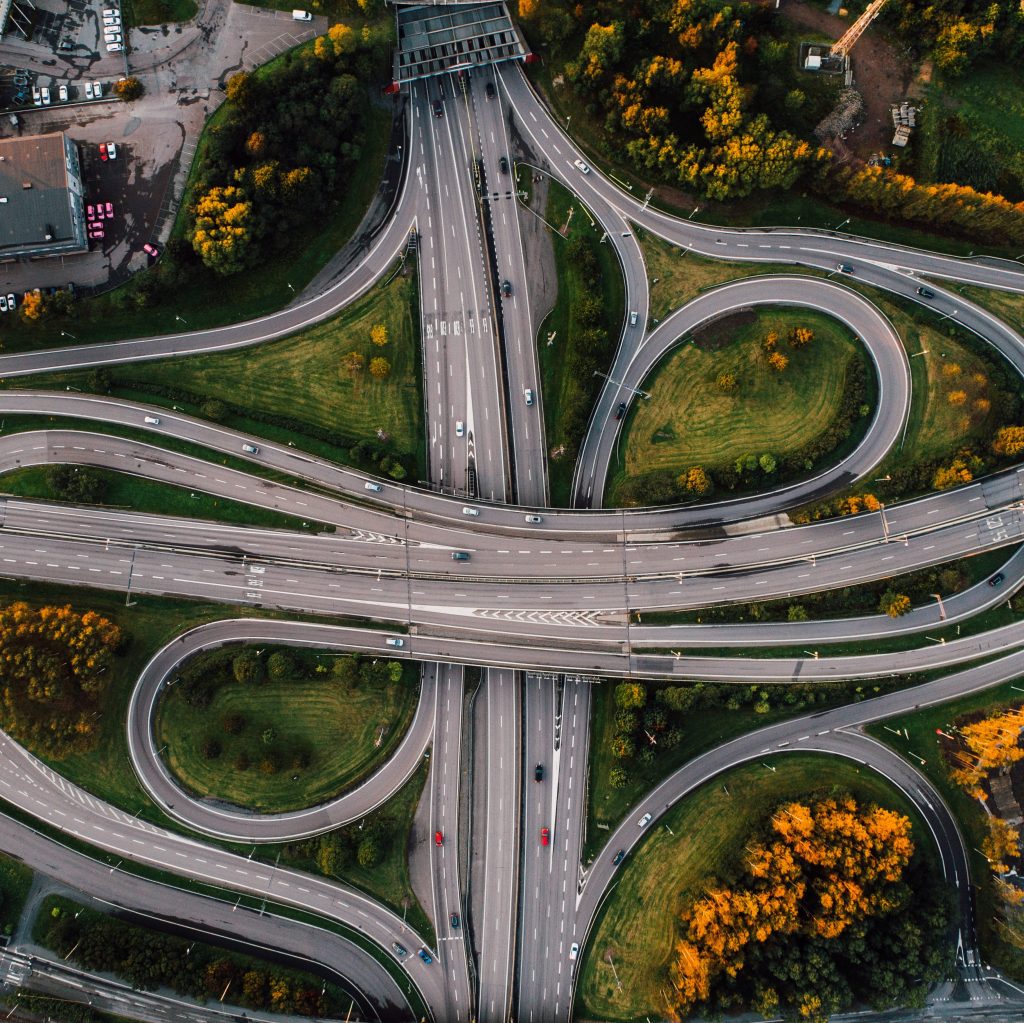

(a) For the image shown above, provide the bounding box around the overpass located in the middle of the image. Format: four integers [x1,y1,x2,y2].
[404,484,634,678]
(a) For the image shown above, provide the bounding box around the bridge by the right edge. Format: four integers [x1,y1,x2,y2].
[972,463,1024,548]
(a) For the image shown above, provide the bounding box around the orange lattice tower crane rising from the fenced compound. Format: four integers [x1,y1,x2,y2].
[834,0,892,66]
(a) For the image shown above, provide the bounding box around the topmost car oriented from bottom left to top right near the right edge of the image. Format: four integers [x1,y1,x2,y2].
[987,573,1004,586]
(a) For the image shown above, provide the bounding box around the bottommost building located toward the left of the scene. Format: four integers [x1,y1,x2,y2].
[0,130,88,255]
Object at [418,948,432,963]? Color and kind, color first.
blue car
